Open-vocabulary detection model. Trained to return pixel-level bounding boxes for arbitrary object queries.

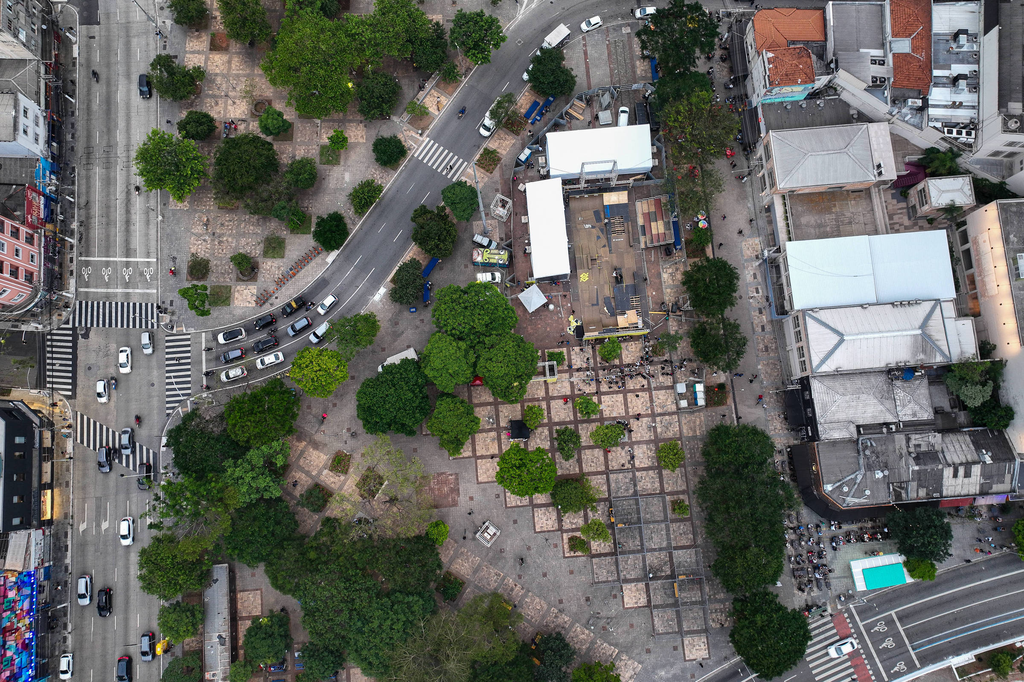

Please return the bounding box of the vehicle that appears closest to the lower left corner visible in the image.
[57,649,77,682]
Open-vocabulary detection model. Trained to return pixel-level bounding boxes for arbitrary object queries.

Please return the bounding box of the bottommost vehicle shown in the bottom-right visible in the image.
[824,636,861,659]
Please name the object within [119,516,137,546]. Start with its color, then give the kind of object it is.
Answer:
white car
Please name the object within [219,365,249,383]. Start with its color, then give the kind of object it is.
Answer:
white car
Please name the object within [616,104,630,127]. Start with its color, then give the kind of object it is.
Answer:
white vehicle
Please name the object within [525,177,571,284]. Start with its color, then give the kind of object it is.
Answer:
white tent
